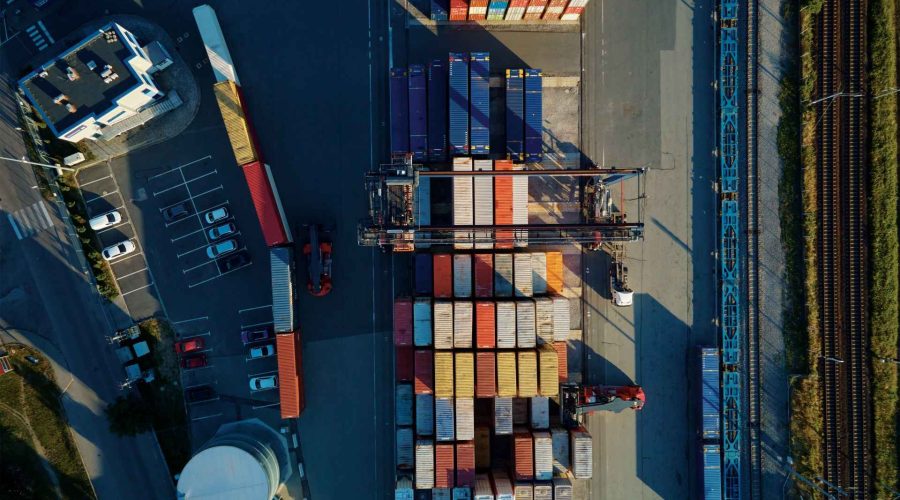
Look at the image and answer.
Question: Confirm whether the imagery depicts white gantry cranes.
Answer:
No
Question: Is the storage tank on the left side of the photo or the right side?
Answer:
left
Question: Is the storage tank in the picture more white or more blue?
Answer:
blue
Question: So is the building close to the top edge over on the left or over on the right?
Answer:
left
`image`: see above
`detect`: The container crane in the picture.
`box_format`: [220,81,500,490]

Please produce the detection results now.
[355,150,652,251]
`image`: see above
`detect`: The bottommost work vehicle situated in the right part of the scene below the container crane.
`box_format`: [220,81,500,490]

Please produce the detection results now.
[568,380,645,424]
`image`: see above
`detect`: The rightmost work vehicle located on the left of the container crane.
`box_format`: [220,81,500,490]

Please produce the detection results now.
[294,221,338,295]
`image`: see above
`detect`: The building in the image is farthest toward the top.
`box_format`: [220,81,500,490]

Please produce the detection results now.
[19,22,182,145]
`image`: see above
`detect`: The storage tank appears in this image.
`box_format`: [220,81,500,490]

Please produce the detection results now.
[172,418,293,500]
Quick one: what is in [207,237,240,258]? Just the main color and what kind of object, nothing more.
blue car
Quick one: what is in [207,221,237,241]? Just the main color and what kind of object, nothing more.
blue car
